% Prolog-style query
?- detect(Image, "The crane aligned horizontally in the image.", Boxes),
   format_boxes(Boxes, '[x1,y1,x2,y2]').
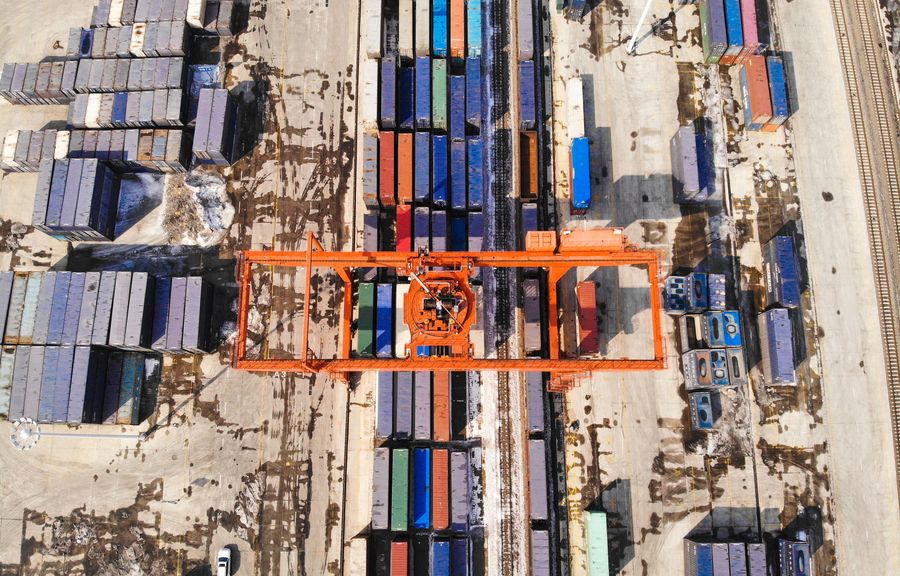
[224,229,672,387]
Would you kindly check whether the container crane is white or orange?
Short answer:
orange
